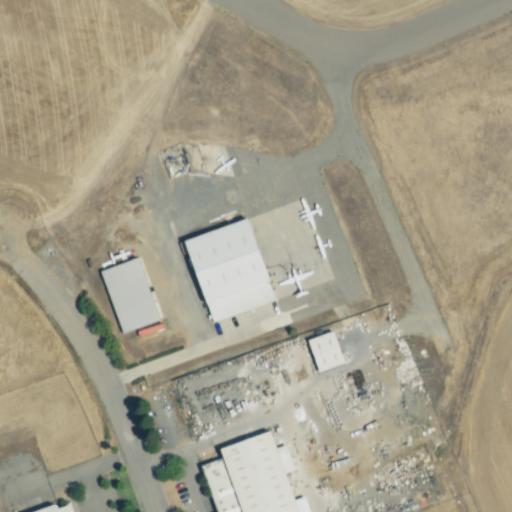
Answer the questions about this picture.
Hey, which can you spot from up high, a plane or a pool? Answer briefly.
plane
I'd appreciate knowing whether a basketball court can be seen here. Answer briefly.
No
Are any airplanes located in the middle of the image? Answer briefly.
Yes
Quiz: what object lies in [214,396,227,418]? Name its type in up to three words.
vehicle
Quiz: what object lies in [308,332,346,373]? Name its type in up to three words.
shed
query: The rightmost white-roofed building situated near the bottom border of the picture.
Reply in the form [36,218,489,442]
[202,432,311,512]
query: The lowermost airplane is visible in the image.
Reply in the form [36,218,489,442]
[280,268,314,298]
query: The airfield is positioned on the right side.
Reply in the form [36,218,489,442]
[172,0,512,342]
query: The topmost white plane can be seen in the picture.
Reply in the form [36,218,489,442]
[215,156,236,174]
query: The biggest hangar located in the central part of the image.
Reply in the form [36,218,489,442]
[185,219,276,324]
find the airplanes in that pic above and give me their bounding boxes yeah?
[302,198,325,230]
[215,156,236,174]
[316,234,334,258]
[102,255,122,266]
[280,268,314,298]
[210,212,236,224]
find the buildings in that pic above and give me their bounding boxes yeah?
[185,219,276,324]
[308,332,346,373]
[202,432,311,512]
[27,498,76,512]
[102,258,163,334]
